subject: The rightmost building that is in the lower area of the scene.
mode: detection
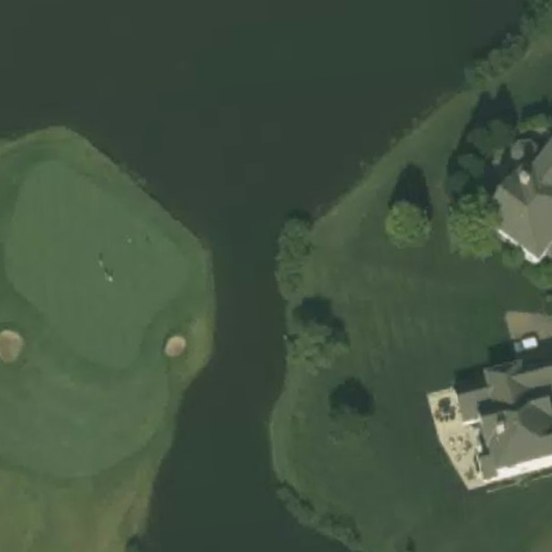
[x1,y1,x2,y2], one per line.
[457,359,552,483]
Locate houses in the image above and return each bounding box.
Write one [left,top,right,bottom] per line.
[495,137,552,259]
[457,359,552,483]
